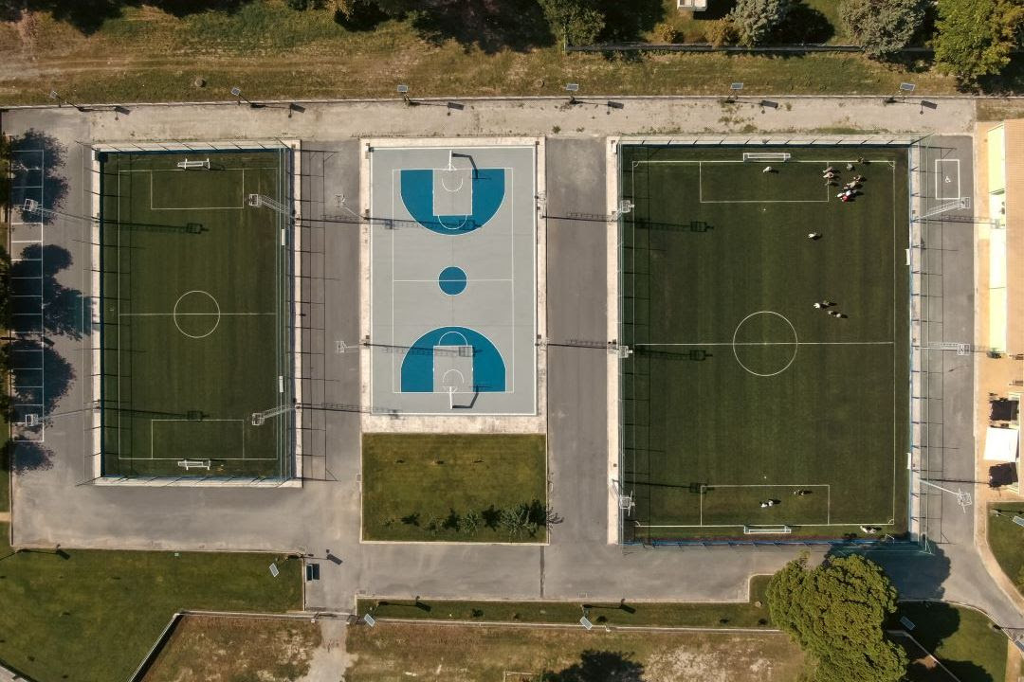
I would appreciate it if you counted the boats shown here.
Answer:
0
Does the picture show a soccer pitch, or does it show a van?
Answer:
soccer pitch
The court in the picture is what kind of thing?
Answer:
basketball court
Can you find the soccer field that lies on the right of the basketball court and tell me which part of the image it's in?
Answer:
right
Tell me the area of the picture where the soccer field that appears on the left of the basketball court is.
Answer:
left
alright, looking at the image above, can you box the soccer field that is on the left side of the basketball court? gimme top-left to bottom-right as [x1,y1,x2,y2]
[92,142,301,486]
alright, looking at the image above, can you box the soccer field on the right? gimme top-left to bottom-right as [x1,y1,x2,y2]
[607,134,921,545]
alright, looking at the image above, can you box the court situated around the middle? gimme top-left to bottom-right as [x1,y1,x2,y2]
[360,138,545,434]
